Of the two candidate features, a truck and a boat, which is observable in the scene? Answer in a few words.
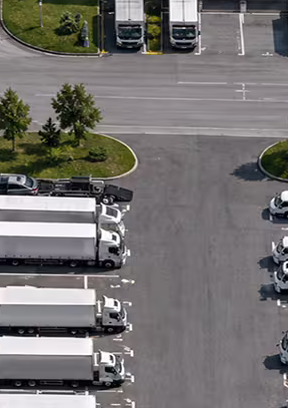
truck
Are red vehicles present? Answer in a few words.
No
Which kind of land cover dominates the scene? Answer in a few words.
paved ground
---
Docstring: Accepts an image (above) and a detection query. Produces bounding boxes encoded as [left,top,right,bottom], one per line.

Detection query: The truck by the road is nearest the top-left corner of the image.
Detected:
[111,0,147,47]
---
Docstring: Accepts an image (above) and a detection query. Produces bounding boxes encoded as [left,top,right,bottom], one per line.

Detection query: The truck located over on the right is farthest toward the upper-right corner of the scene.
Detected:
[165,0,201,47]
